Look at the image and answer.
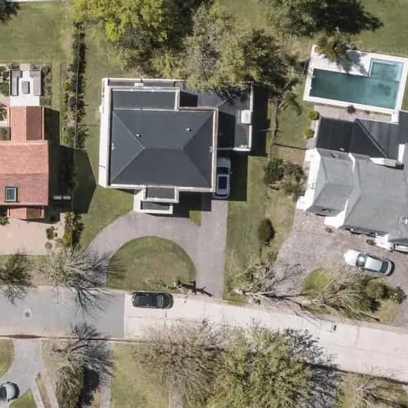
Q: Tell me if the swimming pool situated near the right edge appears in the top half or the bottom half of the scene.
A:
top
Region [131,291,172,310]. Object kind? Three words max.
car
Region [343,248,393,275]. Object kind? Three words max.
car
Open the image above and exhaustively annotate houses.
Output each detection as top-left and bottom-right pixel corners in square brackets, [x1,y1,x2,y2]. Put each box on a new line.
[0,106,49,218]
[287,110,408,253]
[98,79,253,213]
